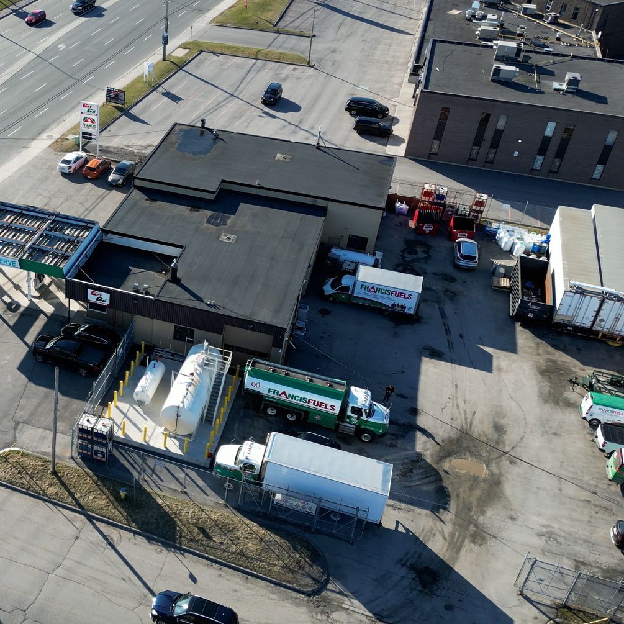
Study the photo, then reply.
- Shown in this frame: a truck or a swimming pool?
truck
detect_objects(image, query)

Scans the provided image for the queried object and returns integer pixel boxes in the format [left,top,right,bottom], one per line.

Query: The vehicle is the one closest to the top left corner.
[20,7,45,24]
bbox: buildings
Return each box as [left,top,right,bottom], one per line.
[400,38,624,192]
[64,121,397,375]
